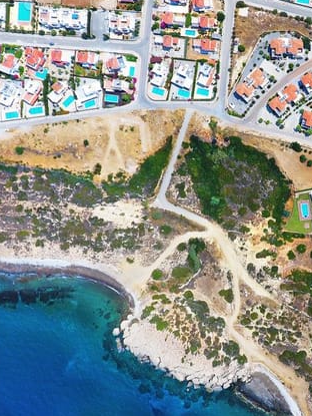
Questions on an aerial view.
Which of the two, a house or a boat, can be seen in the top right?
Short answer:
house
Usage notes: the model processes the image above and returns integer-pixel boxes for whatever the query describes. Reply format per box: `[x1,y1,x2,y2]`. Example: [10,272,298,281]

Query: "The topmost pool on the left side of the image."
[18,2,31,22]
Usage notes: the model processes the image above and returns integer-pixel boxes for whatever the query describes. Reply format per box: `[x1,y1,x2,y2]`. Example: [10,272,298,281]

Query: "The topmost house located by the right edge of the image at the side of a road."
[270,37,305,59]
